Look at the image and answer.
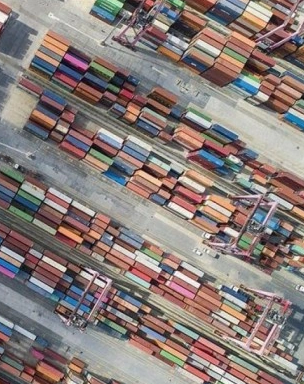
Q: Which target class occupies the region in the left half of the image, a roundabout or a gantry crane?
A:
gantry crane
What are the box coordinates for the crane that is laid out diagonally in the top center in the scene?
[108,0,169,52]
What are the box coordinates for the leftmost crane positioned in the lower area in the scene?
[52,264,118,339]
